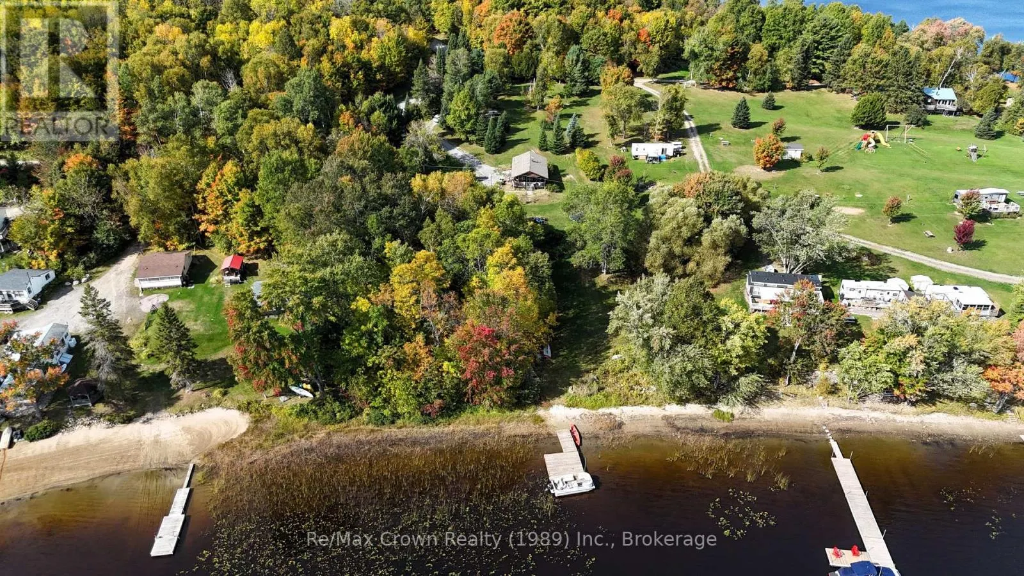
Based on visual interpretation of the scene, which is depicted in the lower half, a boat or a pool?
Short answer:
boat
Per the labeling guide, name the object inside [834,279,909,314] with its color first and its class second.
white trailer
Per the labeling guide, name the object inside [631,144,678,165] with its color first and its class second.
white trailer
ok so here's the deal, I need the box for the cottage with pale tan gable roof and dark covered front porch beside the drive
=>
[511,153,550,190]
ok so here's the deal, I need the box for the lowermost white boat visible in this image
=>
[545,470,598,497]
